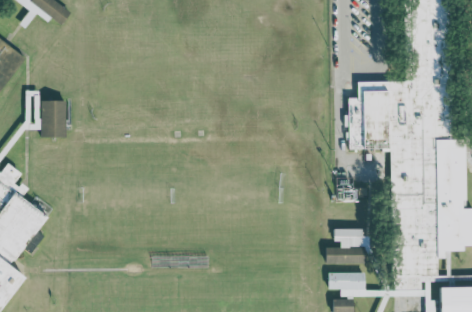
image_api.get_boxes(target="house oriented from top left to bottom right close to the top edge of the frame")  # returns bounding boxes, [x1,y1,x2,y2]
[32,0,71,24]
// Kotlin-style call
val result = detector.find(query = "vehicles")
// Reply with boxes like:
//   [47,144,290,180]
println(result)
[334,30,338,40]
[363,32,371,42]
[363,40,371,48]
[333,4,338,13]
[353,24,362,32]
[352,6,360,16]
[333,16,338,26]
[334,42,339,54]
[352,14,360,23]
[364,24,372,34]
[362,8,370,18]
[334,56,339,66]
[352,0,360,8]
[364,18,372,26]
[342,140,346,150]
[352,32,360,40]
[362,0,370,10]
